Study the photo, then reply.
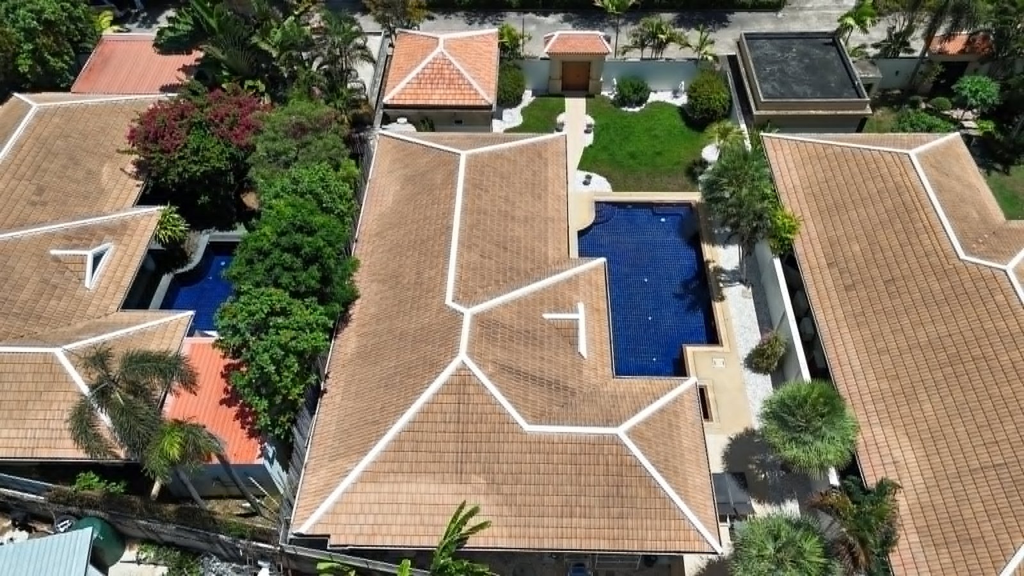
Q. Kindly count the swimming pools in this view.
2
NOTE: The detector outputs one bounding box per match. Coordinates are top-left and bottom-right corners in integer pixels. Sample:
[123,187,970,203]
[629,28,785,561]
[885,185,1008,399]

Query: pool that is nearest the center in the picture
[572,197,729,378]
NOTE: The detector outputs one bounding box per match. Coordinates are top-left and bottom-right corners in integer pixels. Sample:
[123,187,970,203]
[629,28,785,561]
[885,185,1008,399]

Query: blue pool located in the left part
[149,227,246,332]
